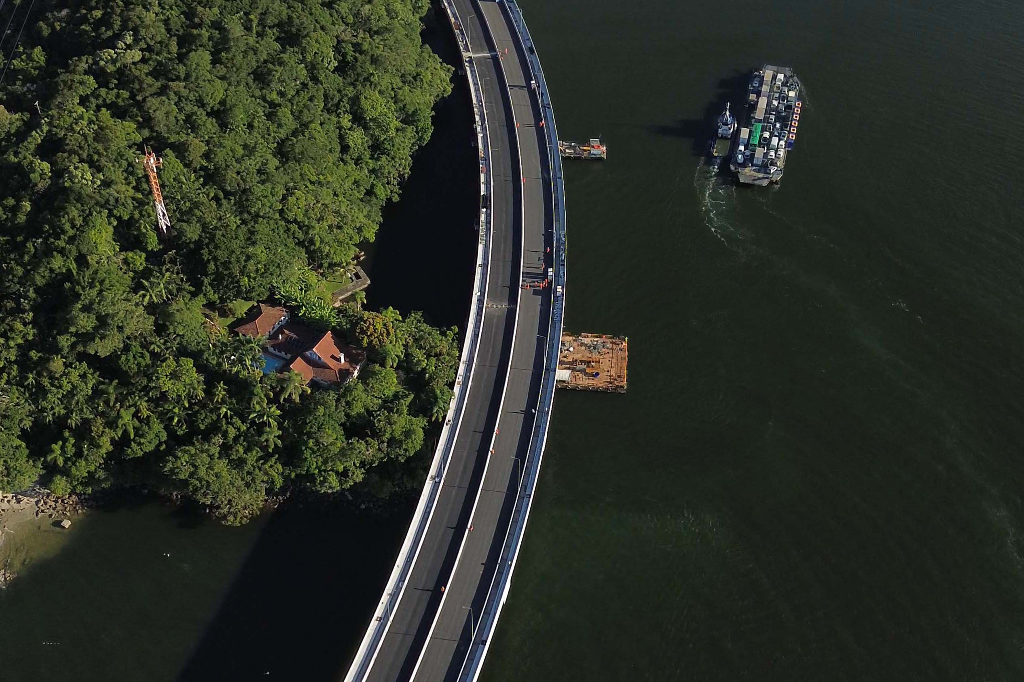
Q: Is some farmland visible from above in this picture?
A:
No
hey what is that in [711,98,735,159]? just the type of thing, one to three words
boat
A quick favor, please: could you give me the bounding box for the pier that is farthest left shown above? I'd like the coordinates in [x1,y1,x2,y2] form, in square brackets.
[334,266,370,307]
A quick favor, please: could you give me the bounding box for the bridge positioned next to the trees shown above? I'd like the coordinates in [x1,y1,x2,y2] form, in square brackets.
[344,0,568,682]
